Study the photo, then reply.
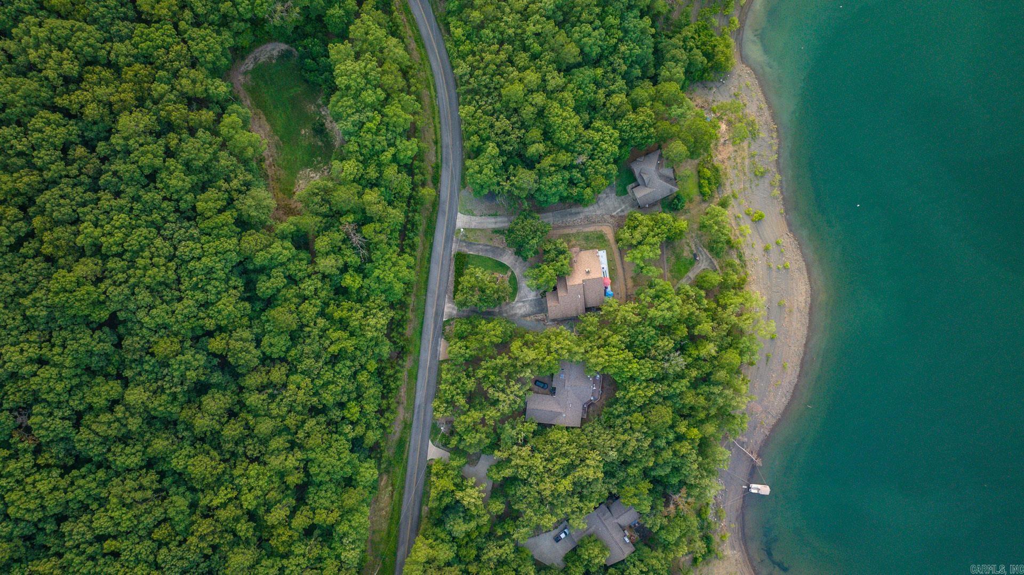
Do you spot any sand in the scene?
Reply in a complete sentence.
Yes, sand shows up in the scene.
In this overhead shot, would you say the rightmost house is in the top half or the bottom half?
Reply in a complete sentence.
It is in the top half that the rightmost house appears.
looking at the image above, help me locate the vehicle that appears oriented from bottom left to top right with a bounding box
[553,528,571,545]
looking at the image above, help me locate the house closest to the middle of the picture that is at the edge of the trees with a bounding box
[546,249,605,319]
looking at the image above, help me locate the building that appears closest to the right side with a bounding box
[631,149,679,208]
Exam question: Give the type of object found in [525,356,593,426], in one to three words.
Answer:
house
